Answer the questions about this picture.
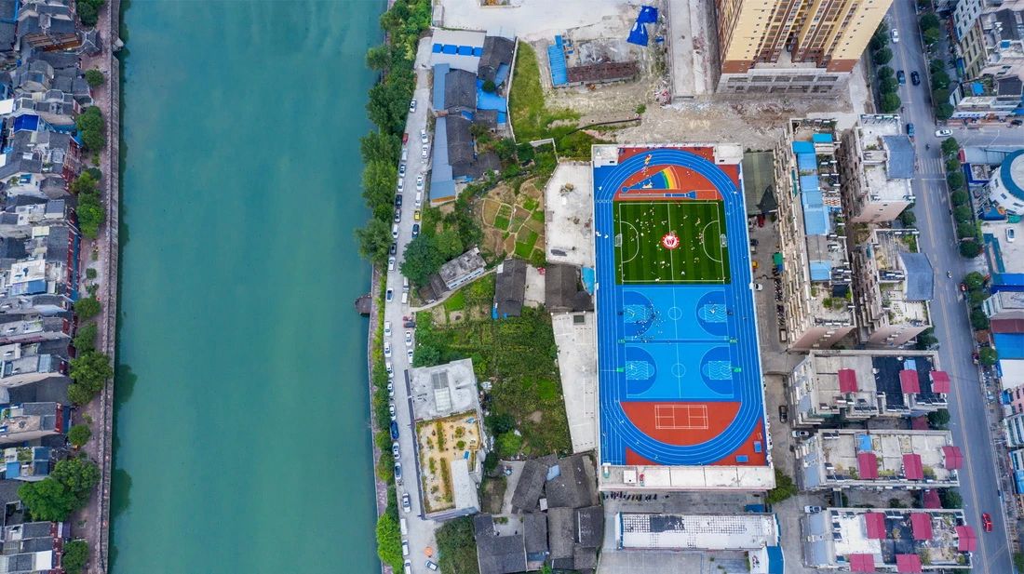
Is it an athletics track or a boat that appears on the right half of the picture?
athletics track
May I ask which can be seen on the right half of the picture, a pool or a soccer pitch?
soccer pitch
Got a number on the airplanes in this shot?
0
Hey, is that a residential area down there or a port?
residential area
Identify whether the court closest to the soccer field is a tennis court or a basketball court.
basketball court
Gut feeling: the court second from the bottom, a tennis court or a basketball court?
basketball court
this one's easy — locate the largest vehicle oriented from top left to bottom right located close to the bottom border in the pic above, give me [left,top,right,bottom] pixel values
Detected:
[422,558,440,573]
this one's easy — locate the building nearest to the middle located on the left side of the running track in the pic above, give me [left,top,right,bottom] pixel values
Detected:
[495,258,527,321]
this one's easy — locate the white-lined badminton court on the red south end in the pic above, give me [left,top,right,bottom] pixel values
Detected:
[655,405,708,429]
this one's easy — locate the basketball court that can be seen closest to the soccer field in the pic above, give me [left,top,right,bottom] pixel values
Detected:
[623,287,729,339]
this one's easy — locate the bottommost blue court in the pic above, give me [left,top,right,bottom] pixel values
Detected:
[625,343,734,398]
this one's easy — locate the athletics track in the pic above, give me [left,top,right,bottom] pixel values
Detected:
[593,150,765,464]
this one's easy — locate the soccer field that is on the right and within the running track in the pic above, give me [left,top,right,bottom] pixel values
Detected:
[612,201,731,284]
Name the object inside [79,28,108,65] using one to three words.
building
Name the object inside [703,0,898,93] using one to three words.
building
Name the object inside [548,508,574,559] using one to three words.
house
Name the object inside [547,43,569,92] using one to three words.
shed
